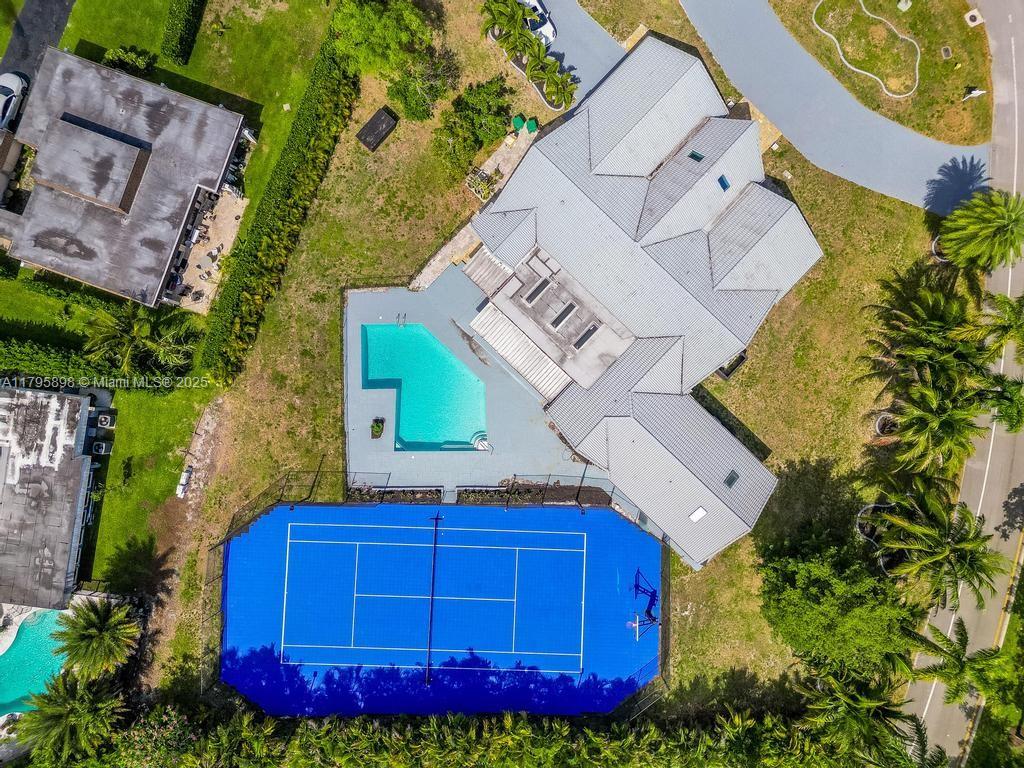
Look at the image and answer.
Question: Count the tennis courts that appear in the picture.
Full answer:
The picture shows 1 tennis court.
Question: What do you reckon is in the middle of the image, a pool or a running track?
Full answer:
It is a pool that can be seen in the middle of the image.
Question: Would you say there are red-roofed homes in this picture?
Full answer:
No, the frame has no red-roofed home in it.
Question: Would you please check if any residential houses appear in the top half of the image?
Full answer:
Yes, a residential house can be seen in the top half of the image.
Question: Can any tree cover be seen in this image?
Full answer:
Yes, tree cover shows up in the scene.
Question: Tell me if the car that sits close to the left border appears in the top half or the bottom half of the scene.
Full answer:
It is in the top half that the car that sits close to the left border appears.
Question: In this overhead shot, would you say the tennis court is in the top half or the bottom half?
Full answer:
It is in the bottom half that the tennis court appears.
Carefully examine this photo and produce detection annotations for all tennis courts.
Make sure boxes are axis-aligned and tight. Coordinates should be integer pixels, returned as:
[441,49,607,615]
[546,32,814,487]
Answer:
[218,504,663,720]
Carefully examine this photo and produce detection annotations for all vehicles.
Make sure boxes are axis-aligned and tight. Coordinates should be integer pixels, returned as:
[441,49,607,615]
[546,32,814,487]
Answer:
[0,73,23,128]
[518,0,552,43]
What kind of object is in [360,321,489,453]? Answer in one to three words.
swimming pool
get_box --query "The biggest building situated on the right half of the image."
[463,38,823,566]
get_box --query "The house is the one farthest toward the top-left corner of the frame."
[0,46,245,307]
